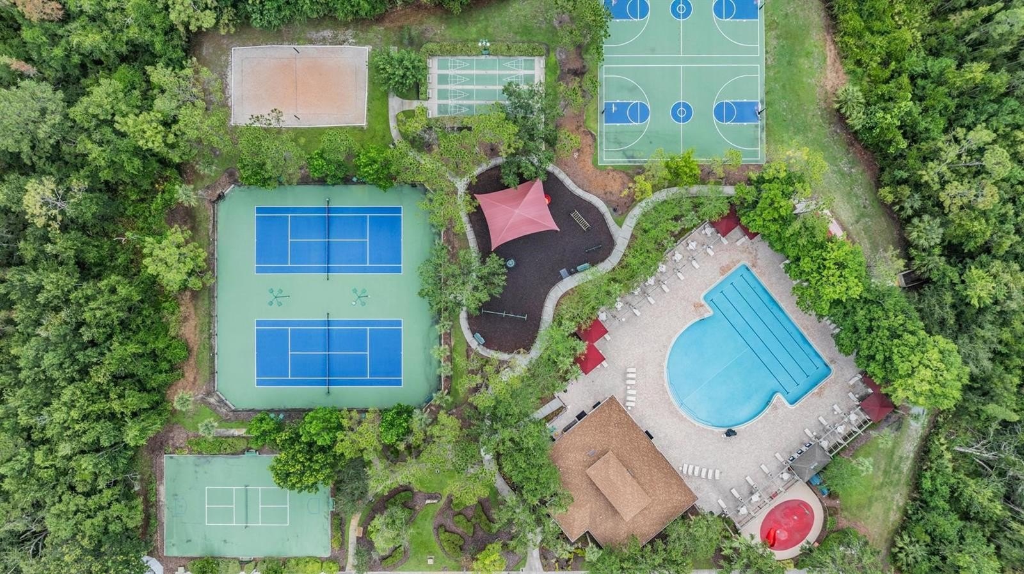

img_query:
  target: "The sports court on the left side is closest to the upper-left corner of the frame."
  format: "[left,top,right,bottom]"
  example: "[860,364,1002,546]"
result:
[231,45,368,127]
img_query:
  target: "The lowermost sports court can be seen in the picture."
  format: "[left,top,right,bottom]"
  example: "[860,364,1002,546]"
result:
[164,455,331,557]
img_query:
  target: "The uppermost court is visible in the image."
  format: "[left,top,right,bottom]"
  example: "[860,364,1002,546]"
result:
[604,0,759,56]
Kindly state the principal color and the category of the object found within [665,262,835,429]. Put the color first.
blue swimming pool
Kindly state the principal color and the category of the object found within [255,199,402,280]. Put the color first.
blue tennis court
